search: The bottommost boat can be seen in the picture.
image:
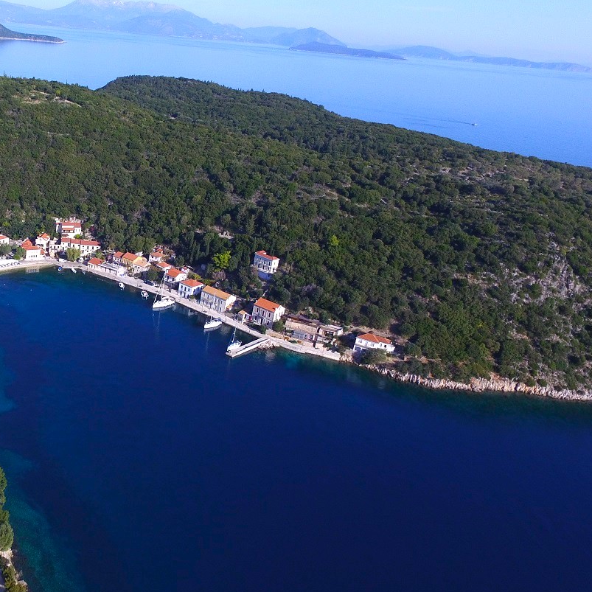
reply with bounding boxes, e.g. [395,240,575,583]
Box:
[227,311,244,352]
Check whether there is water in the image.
Yes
